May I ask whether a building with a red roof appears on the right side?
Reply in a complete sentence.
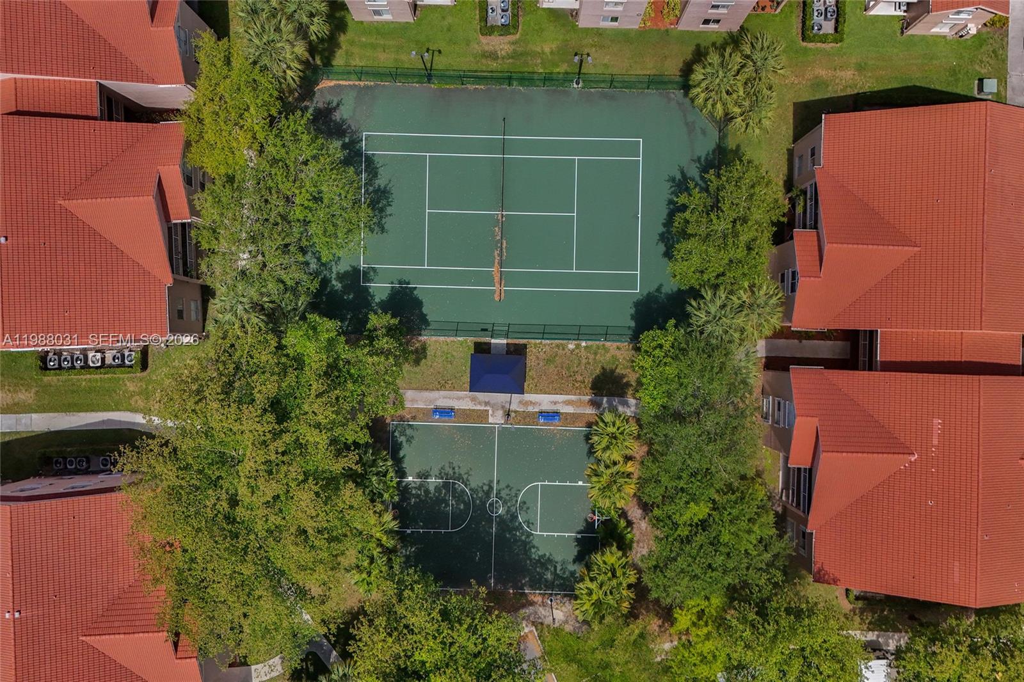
Yes, the scene does show a building with a red roof on the right side.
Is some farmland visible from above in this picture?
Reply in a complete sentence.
No, farmland can't be seen anywhere here.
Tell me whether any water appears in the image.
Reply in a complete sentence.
No, there's no water in this view.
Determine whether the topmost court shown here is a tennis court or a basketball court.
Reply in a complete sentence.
It looks like the topmost court is a tennis court.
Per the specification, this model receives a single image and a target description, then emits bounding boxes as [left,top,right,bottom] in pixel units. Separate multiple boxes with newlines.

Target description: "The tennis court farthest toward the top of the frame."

[299,84,719,342]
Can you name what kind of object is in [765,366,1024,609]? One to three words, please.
building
